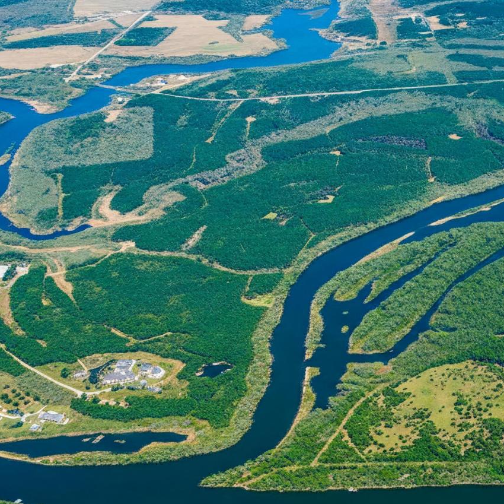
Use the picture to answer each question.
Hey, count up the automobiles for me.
0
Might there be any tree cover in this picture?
Yes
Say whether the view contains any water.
Yes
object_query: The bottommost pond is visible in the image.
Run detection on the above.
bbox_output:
[0,431,186,457]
